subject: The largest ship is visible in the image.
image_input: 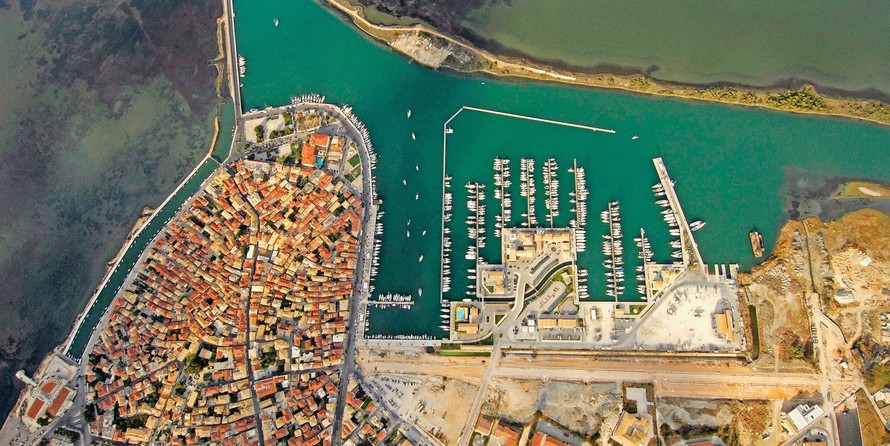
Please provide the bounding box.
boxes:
[750,230,762,258]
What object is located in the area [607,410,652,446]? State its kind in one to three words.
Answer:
house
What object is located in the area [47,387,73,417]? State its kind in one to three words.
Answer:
building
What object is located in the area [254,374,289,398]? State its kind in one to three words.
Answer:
building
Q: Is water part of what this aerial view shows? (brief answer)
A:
Yes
